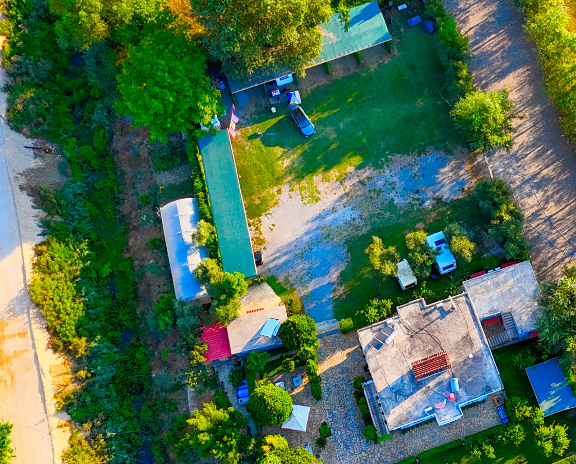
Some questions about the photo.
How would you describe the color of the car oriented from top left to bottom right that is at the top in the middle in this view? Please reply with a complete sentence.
The color of the car oriented from top left to bottom right that is at the top in the middle is blue.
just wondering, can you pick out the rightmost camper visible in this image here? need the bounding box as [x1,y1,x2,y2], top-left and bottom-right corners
[427,229,458,283]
